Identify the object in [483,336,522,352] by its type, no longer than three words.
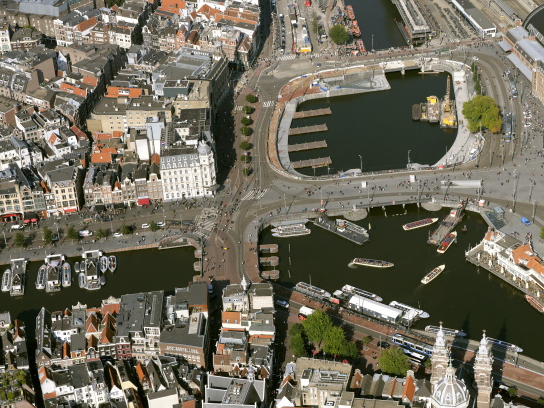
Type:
boat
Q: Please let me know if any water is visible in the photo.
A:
Yes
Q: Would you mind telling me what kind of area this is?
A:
residential area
